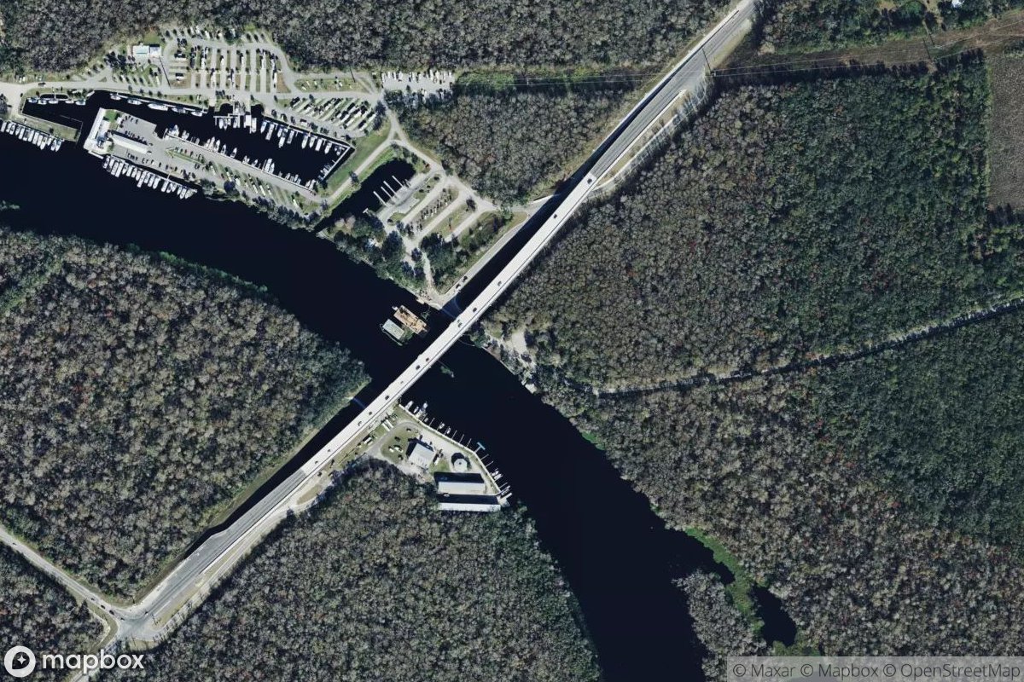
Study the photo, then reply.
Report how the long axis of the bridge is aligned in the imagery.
diagonally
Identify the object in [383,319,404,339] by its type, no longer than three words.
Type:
ship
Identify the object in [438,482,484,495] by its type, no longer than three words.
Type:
shed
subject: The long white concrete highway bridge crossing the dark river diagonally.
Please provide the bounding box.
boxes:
[136,9,749,625]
